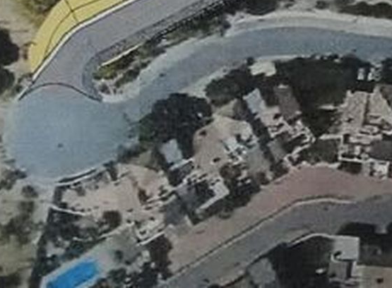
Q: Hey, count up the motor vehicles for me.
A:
0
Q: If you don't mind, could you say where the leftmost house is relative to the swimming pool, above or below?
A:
above it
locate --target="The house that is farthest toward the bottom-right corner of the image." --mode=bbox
[330,236,392,288]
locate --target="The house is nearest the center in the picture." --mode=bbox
[161,99,267,207]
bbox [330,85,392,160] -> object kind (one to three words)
house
